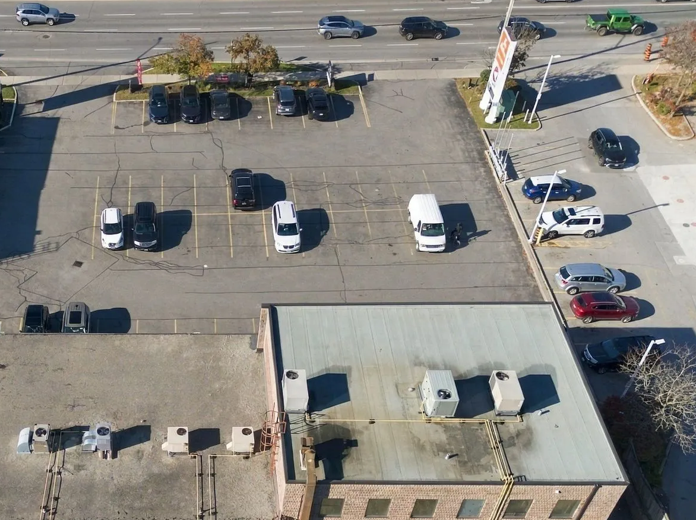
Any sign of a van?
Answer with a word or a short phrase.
Yes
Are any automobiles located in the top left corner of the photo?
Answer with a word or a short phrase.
Yes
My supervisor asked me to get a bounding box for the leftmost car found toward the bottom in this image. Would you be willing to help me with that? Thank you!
[14,303,49,332]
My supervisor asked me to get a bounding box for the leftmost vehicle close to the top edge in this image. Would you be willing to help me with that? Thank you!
[15,2,61,25]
